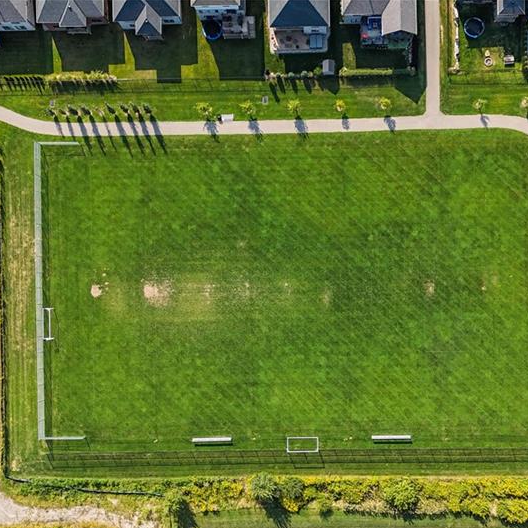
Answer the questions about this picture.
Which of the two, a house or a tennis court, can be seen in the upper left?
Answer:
house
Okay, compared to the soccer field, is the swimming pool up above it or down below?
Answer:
above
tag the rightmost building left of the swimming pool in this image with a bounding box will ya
[113,0,182,41]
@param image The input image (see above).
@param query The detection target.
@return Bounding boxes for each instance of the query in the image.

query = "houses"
[36,0,109,35]
[113,0,182,41]
[0,0,34,48]
[455,0,526,23]
[191,0,247,41]
[342,0,418,47]
[270,0,328,53]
